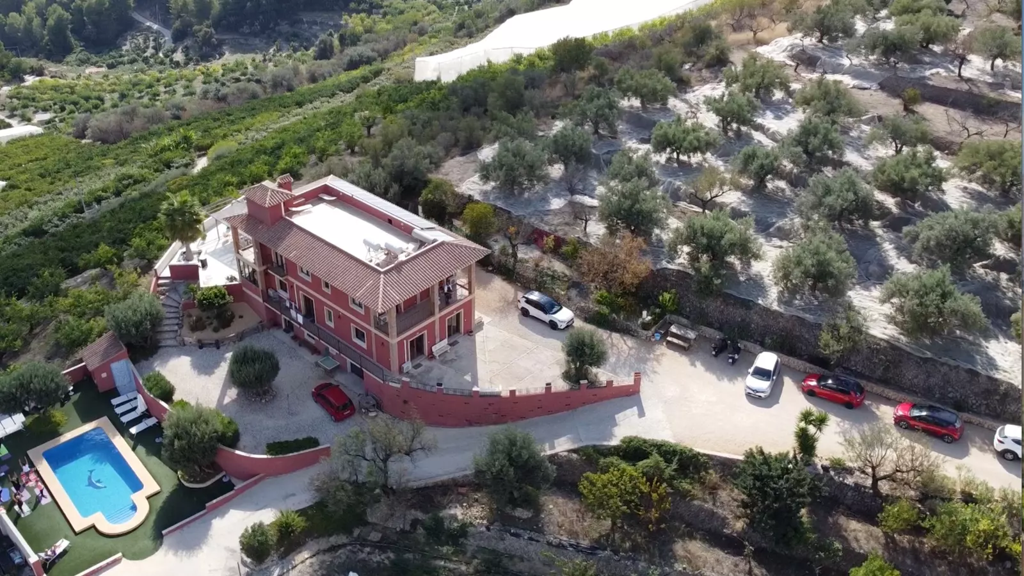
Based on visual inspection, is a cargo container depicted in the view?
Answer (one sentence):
No, there appears to be no cargo container in this shot.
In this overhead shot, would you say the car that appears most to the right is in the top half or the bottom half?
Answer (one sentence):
The car that appears most to the right sits in the bottom half of the picture.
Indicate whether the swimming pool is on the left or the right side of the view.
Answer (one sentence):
You can find the swimming pool on the left side of the picture.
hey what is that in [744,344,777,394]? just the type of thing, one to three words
car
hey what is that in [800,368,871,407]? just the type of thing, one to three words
car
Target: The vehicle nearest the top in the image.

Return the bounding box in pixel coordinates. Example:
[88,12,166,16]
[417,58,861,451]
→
[517,287,578,329]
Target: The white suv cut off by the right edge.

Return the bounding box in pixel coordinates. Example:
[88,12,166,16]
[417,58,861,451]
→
[997,420,1024,458]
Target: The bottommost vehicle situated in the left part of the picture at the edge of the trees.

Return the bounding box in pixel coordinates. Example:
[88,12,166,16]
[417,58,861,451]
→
[311,382,357,422]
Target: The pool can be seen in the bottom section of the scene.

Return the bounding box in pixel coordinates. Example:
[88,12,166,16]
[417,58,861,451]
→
[27,421,159,536]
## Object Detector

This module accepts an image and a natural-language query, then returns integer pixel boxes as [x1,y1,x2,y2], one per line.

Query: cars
[890,397,970,440]
[800,368,871,407]
[997,420,1024,458]
[311,382,357,422]
[744,344,777,394]
[517,287,578,329]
